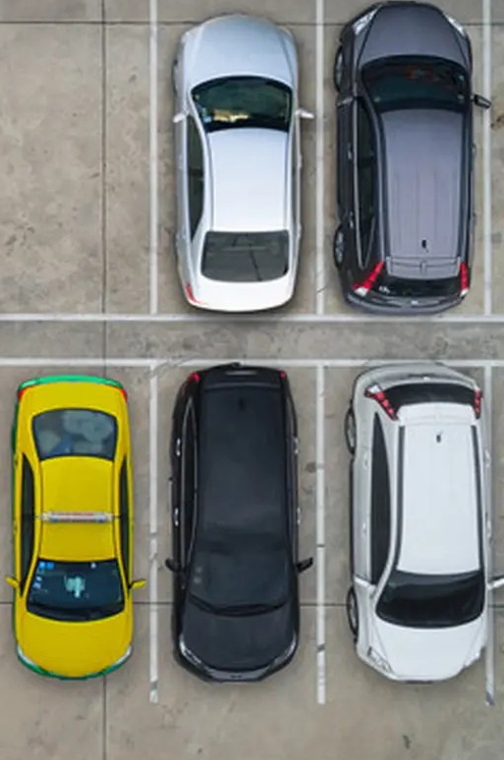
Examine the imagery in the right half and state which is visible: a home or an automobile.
automobile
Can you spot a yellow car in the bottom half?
Yes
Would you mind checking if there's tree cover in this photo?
No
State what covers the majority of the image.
paved ground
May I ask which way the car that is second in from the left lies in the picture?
vertically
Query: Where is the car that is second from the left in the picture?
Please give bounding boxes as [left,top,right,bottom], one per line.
[169,15,310,312]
